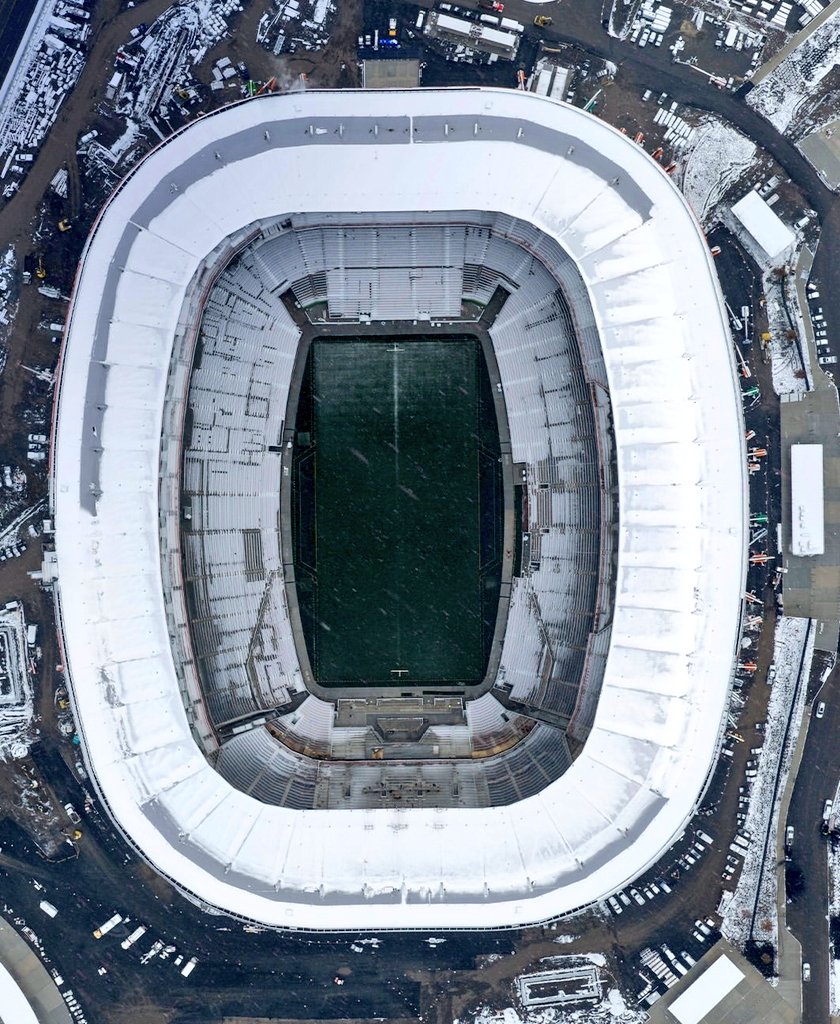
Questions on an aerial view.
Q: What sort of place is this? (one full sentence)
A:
It's a sports ground.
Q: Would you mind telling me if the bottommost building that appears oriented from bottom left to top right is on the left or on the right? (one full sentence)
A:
The bottommost building that appears oriented from bottom left to top right sits on the right side.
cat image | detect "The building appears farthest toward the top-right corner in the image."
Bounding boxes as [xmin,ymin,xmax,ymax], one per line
[795,116,840,193]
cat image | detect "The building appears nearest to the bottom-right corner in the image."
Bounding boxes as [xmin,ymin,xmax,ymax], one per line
[667,954,745,1024]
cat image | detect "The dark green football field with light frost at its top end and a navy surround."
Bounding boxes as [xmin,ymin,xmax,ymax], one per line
[291,336,503,687]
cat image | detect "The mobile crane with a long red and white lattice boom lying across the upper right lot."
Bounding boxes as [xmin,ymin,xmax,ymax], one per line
[665,60,742,93]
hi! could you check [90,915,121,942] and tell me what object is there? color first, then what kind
white truck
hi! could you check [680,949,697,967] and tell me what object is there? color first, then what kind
white vehicle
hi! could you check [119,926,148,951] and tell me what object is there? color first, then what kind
white truck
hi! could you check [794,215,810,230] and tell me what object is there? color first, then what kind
white vehicle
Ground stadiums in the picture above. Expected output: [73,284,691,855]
[50,88,749,932]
